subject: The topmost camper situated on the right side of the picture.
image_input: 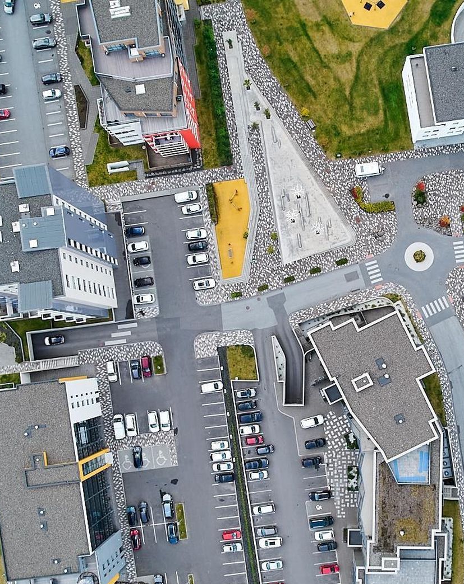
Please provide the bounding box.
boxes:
[355,162,384,179]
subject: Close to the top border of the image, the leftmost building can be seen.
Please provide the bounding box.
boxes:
[77,0,202,160]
